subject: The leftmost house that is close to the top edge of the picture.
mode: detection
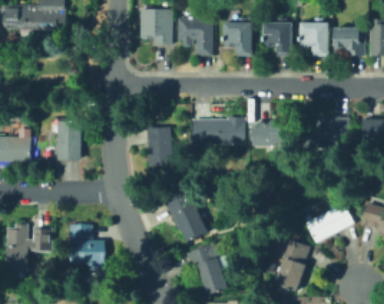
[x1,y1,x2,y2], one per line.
[2,0,66,30]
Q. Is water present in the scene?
No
